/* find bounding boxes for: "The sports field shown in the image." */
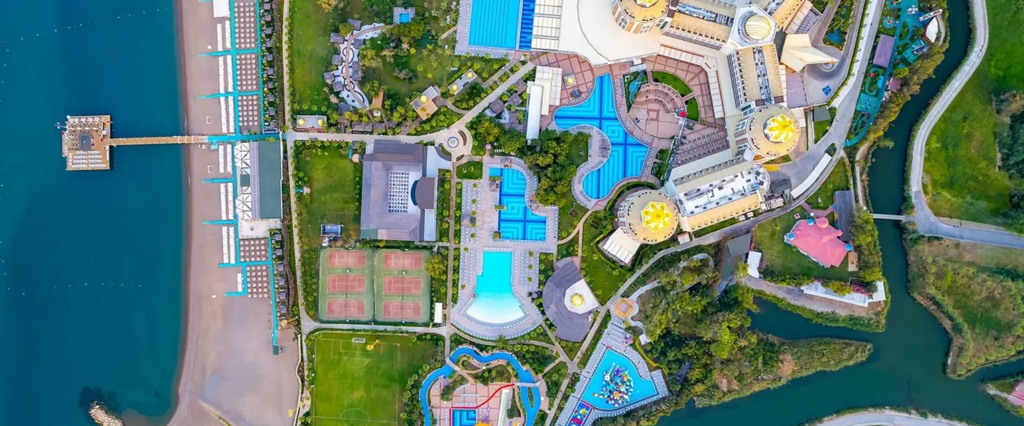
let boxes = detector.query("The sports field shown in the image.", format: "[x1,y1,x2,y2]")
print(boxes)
[310,334,445,426]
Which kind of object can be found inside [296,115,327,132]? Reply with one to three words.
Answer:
building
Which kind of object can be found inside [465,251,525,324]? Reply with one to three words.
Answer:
swimming pool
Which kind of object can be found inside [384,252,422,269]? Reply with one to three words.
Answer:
tennis court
